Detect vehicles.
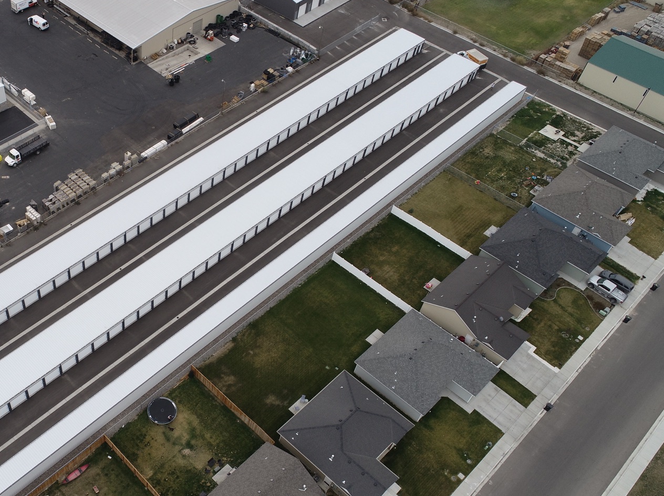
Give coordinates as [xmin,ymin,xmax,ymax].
[4,136,54,169]
[29,15,49,30]
[597,271,636,296]
[454,45,491,71]
[10,0,40,12]
[583,278,631,308]
[203,29,214,42]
